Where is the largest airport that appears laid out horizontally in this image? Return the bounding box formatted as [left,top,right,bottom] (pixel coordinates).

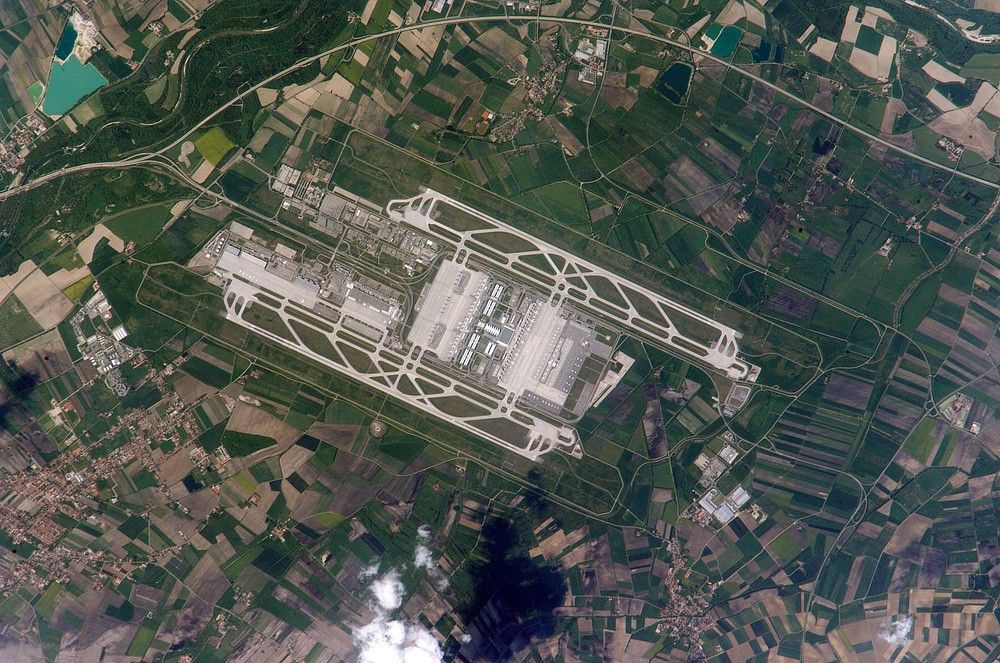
[187,181,765,477]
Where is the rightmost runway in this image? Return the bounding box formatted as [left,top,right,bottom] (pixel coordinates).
[420,185,744,339]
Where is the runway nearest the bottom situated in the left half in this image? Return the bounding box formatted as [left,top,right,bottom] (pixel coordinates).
[219,310,545,465]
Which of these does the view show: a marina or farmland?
farmland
